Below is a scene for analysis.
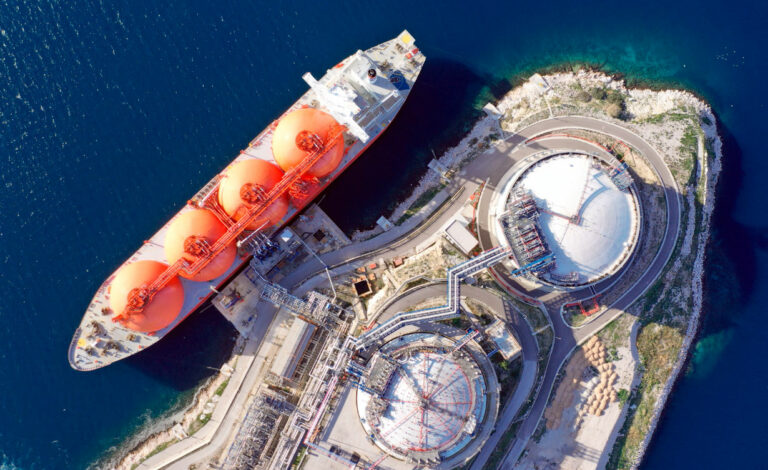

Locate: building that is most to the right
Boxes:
[479,314,522,361]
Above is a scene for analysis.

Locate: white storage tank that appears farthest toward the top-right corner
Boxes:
[486,148,641,292]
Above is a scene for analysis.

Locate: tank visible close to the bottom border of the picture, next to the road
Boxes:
[357,317,503,470]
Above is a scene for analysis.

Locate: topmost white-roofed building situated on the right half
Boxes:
[444,220,478,253]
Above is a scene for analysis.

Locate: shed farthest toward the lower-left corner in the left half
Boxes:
[268,315,316,380]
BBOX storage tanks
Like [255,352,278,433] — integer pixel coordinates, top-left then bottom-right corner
[486,148,641,292]
[357,317,503,470]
